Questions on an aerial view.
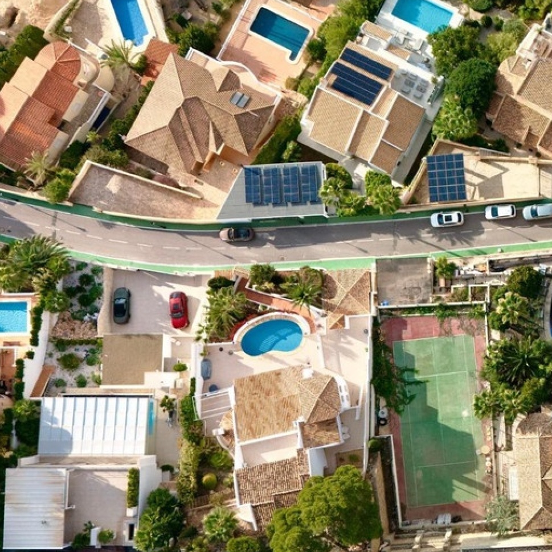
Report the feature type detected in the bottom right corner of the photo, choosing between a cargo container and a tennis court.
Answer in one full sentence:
It is a tennis court that can be seen in the bottom right corner of the photo.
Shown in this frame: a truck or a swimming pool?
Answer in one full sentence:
The one in the frame is a swimming pool.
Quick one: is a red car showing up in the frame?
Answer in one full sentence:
Yes, the frame does contain a red car.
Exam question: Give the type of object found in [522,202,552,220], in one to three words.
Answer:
car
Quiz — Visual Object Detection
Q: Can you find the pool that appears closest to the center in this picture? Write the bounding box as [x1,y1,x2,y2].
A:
[236,315,306,361]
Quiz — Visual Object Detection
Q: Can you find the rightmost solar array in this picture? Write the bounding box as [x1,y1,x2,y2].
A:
[426,154,466,202]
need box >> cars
[484,202,517,220]
[112,287,132,325]
[219,224,255,242]
[169,291,190,329]
[430,209,464,227]
[522,202,552,220]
